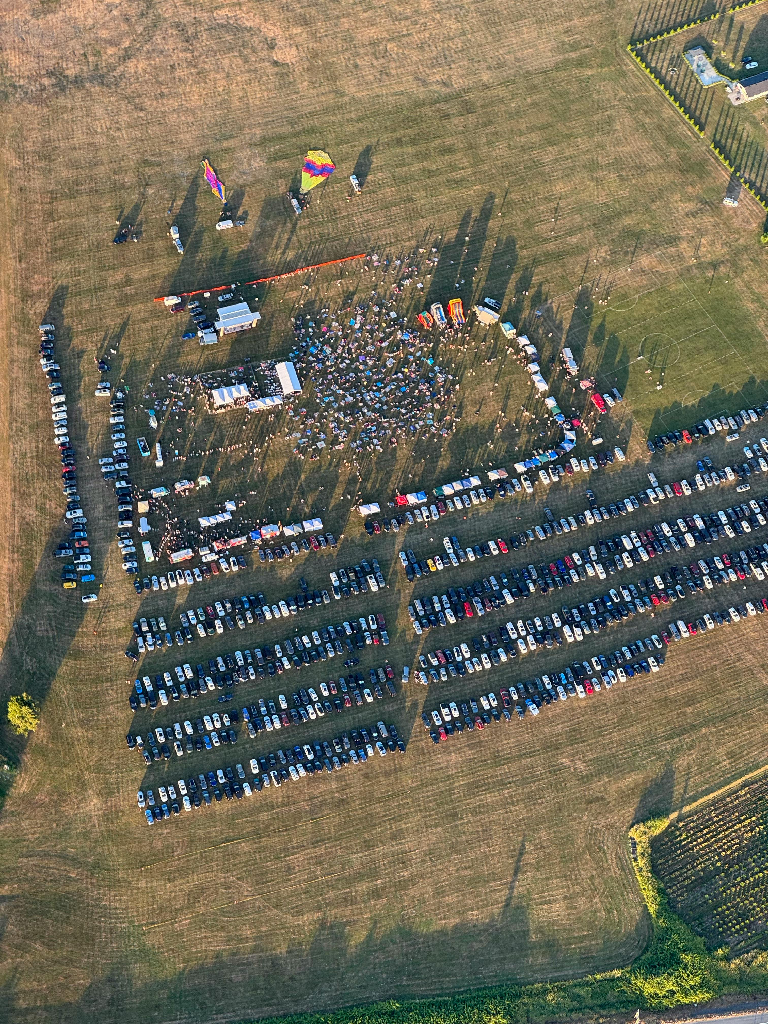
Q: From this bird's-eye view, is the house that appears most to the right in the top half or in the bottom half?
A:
top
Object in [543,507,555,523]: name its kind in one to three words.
vehicle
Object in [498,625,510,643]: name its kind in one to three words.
vehicle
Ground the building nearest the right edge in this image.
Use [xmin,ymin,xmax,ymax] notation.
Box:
[736,70,768,103]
